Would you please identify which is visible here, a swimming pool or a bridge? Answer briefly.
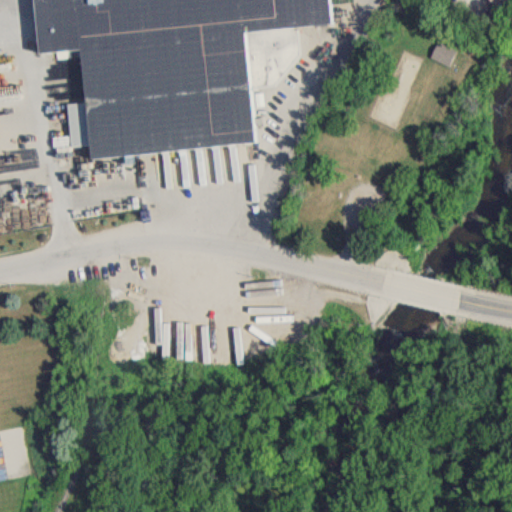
bridge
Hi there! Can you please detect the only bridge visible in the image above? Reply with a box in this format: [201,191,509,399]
[378,271,464,316]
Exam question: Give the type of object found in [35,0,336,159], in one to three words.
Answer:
warehouse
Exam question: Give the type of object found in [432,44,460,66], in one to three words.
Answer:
house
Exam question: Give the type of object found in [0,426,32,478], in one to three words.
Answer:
sports court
